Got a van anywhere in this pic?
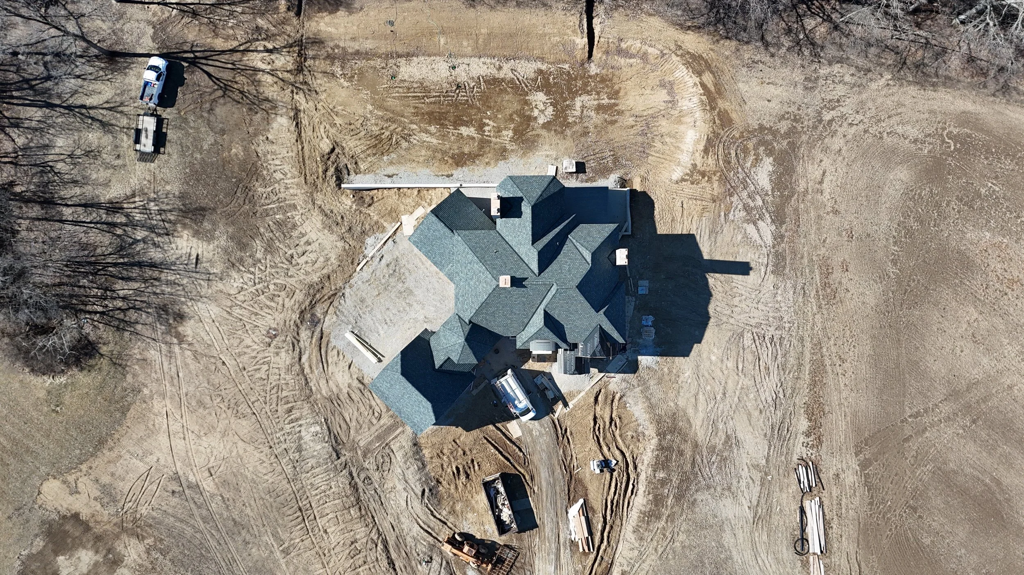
Yes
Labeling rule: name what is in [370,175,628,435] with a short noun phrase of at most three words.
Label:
house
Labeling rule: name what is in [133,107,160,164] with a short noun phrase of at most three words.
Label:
trailer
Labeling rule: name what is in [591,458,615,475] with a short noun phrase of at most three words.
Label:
work vehicle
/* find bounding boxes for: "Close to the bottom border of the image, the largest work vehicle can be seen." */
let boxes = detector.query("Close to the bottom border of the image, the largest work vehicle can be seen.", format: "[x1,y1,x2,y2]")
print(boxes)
[443,532,490,573]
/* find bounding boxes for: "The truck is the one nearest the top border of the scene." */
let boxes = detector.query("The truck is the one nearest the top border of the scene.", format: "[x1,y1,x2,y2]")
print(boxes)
[139,57,168,108]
